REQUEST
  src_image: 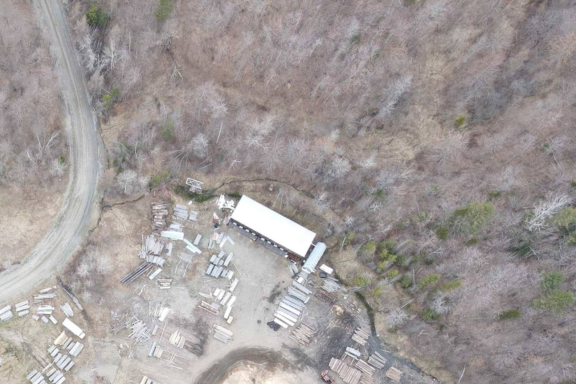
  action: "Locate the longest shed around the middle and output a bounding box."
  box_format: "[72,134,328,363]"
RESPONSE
[228,195,316,259]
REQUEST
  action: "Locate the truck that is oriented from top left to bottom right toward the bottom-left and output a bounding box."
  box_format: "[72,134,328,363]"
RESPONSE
[62,317,86,338]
